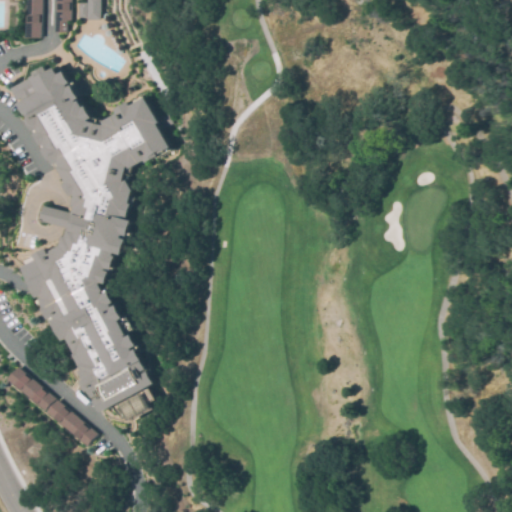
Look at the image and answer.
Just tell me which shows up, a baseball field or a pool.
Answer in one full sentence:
Visible in the photo is a pool.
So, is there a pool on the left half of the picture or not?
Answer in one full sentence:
Yes, on the left half of the picture there is a pool.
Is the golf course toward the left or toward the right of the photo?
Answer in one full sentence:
The golf course appears in the right half of the scene.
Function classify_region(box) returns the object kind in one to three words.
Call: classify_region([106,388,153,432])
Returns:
building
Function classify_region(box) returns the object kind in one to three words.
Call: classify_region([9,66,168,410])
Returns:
building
